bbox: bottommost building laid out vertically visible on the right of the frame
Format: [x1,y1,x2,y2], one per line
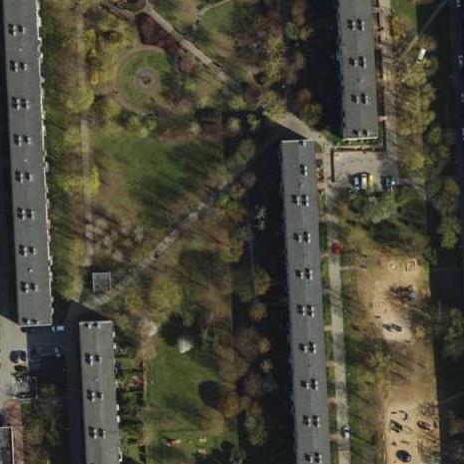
[279,140,333,464]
